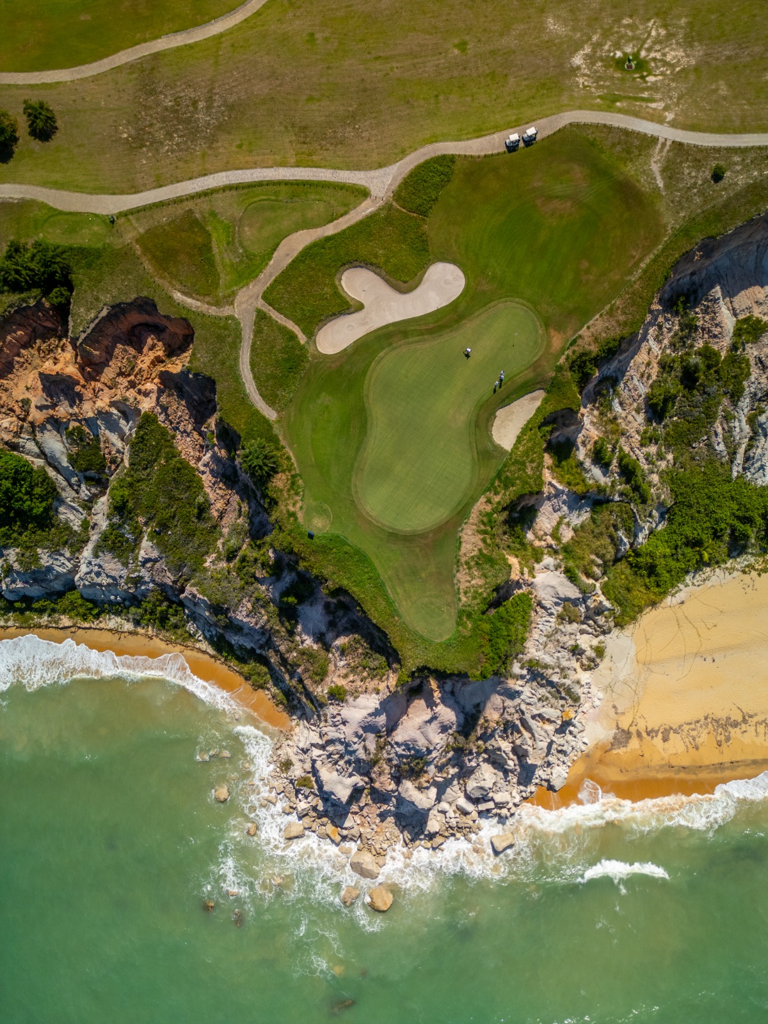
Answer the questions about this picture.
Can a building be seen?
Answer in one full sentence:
No, the scene contains no building.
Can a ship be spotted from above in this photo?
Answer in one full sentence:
No, the scene contains no ship.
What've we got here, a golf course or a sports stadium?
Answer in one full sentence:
Looking from above, you can make out a golf course.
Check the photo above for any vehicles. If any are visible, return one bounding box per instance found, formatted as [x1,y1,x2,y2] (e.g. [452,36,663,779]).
[506,130,523,145]
[524,124,540,140]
